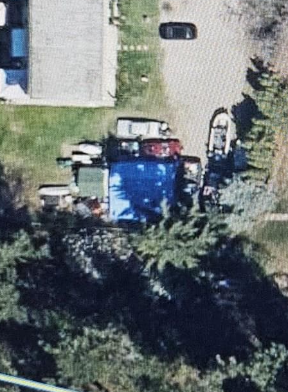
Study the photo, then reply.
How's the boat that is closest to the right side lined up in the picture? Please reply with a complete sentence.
From this overhead view, the boat that is closest to the right side appears to run vertically.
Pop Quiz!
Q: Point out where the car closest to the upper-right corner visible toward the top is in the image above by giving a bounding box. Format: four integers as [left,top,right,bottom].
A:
[160,22,197,40]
